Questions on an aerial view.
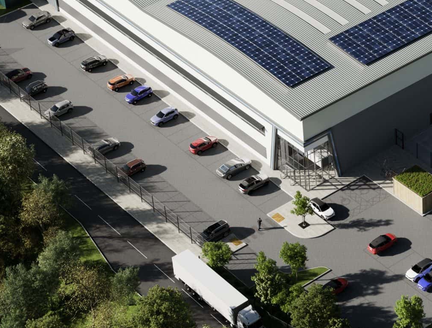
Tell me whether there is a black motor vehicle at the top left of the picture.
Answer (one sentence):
Yes, at the top left of the picture there is a black motor vehicle.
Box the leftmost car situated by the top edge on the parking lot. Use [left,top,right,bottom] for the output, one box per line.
[25,11,51,29]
